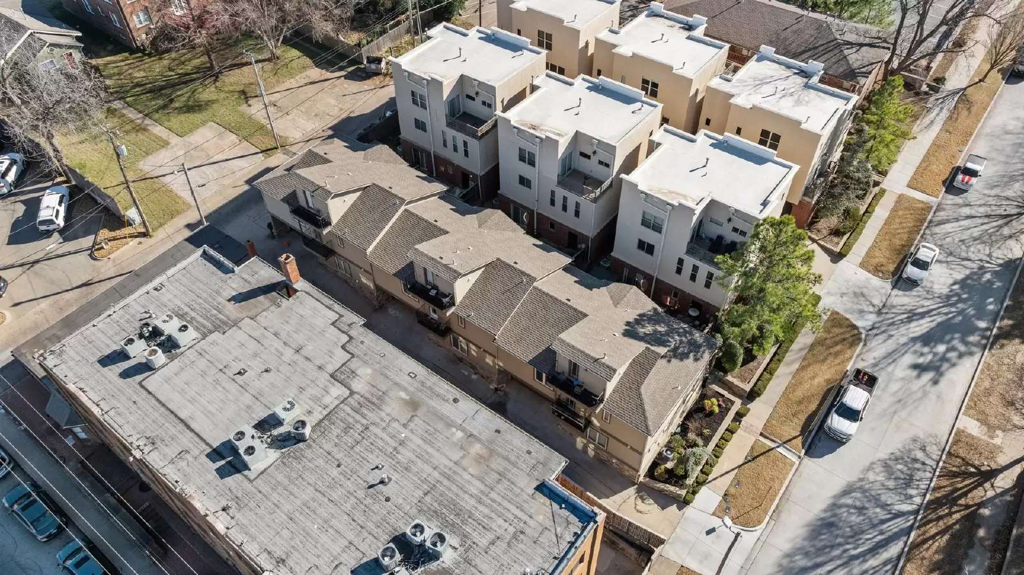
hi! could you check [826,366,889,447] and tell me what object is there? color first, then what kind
white truck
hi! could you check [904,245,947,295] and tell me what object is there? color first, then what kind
white car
